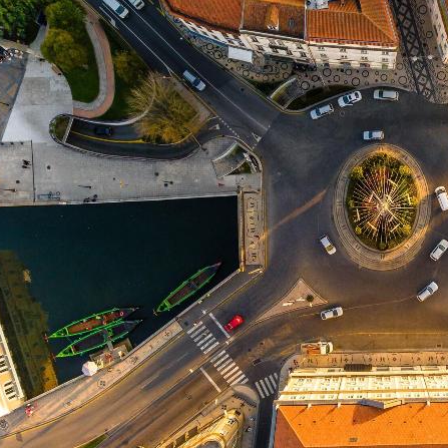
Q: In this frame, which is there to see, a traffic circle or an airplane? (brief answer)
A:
traffic circle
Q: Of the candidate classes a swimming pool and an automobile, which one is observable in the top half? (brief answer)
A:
automobile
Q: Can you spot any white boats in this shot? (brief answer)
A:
No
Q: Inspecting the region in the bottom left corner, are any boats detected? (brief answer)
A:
Yes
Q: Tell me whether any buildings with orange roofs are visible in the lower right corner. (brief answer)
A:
Yes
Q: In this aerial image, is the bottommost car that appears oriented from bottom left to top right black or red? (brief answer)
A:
red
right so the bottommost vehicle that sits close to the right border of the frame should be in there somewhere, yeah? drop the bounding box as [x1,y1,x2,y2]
[415,281,439,303]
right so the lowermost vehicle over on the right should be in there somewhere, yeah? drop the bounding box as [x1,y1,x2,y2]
[300,342,332,357]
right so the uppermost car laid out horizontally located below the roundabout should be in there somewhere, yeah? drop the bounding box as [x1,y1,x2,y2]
[318,306,344,320]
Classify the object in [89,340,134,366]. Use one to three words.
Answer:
pier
